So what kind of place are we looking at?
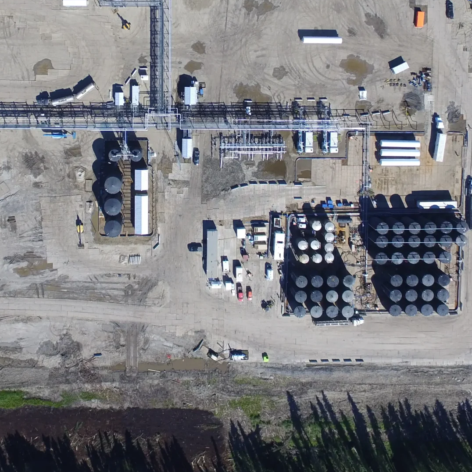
industrial area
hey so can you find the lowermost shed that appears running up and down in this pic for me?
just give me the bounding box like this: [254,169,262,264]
[134,192,148,236]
